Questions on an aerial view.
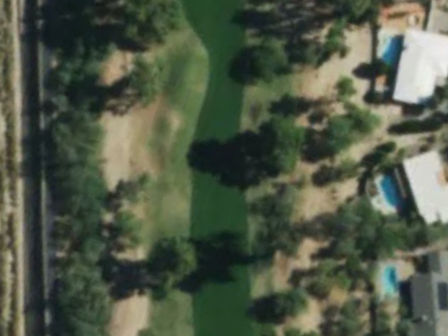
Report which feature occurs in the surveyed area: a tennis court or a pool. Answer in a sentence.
The one in the frame is a pool.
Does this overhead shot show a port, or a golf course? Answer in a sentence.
The picture captures a golf course.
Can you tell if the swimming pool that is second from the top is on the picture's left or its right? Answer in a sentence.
It is on the right.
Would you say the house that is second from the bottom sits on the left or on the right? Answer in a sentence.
It is on the right.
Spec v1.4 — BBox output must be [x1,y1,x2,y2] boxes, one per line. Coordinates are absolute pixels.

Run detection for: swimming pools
[378,34,404,70]
[383,264,398,297]
[379,174,402,210]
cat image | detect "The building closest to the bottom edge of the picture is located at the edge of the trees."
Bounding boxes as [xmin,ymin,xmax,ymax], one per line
[409,253,448,336]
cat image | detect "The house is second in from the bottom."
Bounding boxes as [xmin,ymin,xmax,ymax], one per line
[404,151,448,224]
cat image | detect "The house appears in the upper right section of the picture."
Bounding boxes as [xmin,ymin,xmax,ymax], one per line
[393,28,448,105]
